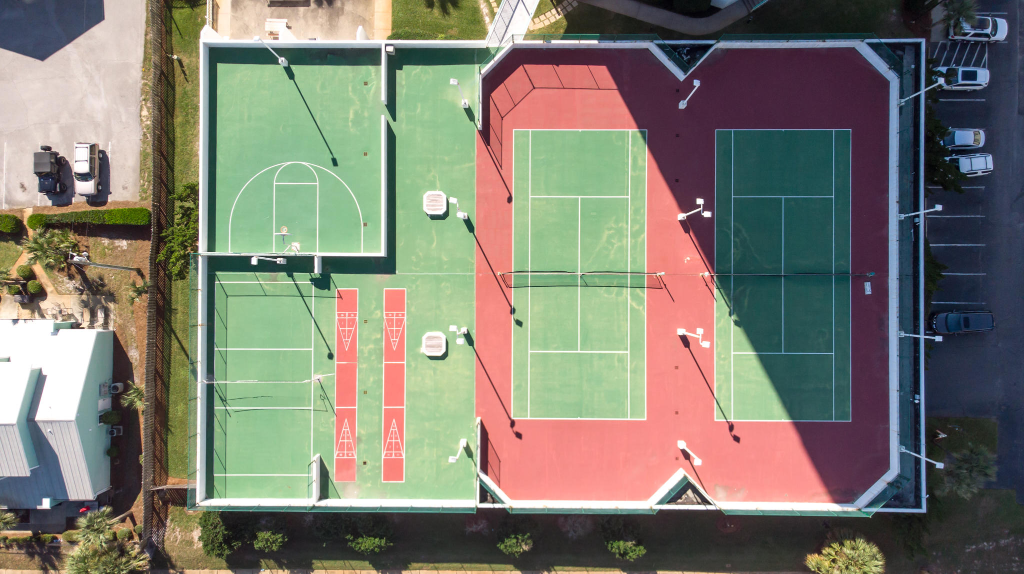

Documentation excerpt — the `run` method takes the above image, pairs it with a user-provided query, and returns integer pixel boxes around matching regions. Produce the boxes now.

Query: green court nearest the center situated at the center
[512,130,647,420]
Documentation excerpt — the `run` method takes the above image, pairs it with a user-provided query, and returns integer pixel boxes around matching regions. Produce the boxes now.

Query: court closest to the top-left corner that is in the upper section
[229,161,363,252]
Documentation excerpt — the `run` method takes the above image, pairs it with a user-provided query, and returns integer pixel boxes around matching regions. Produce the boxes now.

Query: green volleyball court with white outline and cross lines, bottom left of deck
[214,282,314,476]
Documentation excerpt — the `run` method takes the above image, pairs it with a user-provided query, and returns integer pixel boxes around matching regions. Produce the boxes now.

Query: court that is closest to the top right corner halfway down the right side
[716,130,851,421]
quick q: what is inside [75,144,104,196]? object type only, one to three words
car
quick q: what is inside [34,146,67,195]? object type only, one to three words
vehicle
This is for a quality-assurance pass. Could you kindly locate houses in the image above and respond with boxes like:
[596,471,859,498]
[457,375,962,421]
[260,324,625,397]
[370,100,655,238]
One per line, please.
[0,320,113,509]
